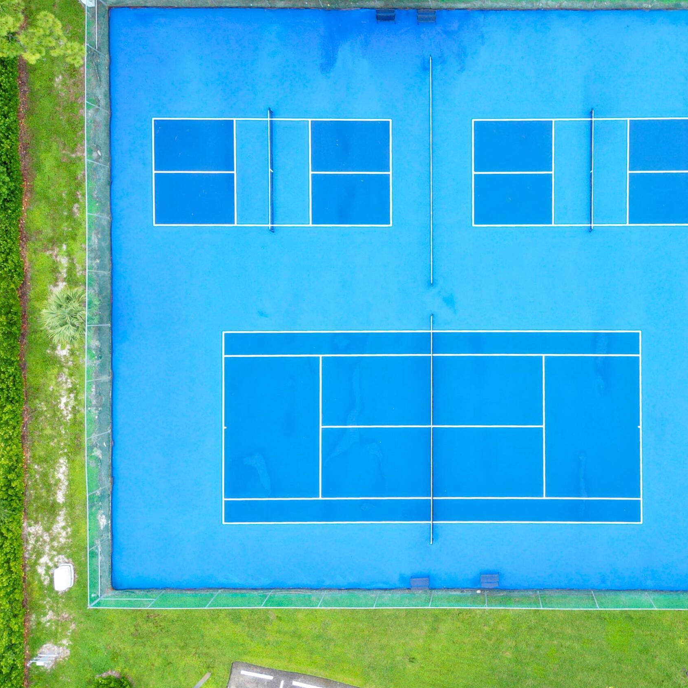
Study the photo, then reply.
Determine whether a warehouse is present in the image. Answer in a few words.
No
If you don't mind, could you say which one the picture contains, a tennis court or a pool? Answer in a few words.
tennis court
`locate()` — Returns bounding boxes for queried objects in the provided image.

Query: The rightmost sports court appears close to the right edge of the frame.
[471,117,688,226]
